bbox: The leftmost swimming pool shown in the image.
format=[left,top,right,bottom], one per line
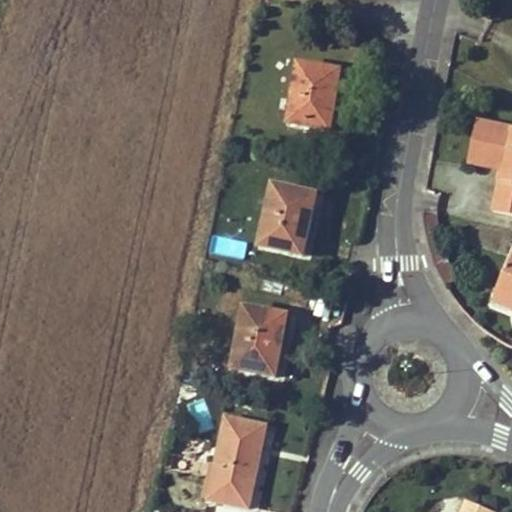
[186,397,215,434]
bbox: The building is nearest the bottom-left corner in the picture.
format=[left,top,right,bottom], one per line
[204,412,268,512]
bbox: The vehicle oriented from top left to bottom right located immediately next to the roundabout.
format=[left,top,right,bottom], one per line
[474,360,492,382]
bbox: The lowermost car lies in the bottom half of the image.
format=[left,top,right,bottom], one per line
[334,441,350,464]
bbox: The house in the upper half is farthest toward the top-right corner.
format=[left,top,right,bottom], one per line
[466,117,512,216]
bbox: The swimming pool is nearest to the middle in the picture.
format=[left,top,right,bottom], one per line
[208,236,248,262]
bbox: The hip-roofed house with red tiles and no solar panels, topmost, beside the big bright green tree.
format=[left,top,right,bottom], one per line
[284,58,341,134]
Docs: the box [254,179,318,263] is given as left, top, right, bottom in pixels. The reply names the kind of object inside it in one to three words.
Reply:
house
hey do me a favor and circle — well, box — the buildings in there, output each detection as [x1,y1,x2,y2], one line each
[434,494,496,512]
[466,117,512,216]
[254,179,318,263]
[204,412,268,512]
[227,301,288,382]
[260,281,284,296]
[284,58,341,134]
[488,246,512,331]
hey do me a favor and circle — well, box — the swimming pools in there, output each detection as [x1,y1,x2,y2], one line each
[208,236,248,262]
[186,397,215,434]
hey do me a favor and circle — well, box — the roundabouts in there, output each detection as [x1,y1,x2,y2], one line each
[354,322,466,433]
